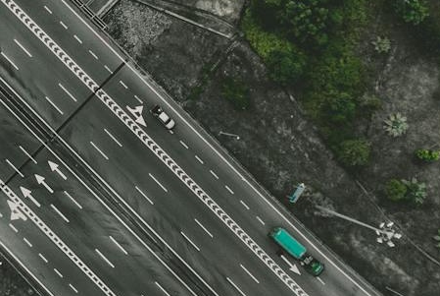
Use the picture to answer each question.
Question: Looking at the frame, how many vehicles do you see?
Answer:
two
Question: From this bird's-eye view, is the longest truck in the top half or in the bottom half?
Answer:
bottom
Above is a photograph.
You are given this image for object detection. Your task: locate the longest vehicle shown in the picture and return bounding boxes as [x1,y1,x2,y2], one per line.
[268,225,325,280]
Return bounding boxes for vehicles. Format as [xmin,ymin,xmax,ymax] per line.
[150,105,177,130]
[268,225,325,280]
